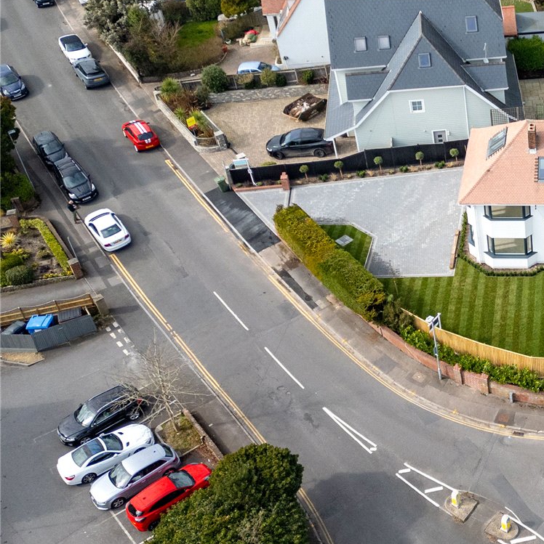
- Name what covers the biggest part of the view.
paved ground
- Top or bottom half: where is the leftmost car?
top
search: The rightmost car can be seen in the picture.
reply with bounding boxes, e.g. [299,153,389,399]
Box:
[265,127,334,157]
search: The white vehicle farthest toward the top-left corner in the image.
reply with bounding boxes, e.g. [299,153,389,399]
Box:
[57,33,92,65]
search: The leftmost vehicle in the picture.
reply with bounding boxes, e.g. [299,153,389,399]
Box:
[0,60,31,100]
